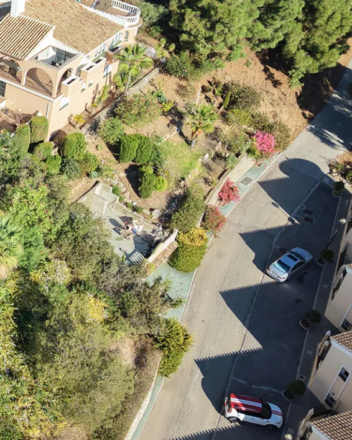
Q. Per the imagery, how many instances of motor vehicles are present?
2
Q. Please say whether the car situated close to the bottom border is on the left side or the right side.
right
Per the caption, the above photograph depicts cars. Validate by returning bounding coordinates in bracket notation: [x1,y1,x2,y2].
[268,250,317,284]
[226,396,284,434]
